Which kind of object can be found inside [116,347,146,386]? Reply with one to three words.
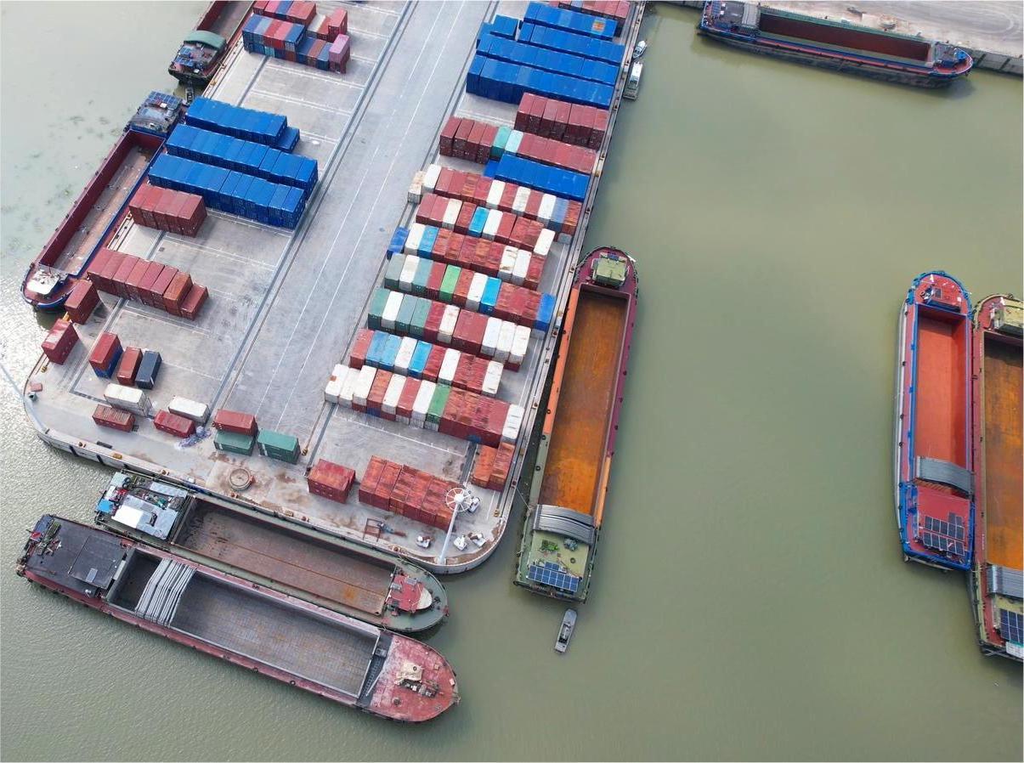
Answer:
shipping container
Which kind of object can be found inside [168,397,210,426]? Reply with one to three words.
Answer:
shipping container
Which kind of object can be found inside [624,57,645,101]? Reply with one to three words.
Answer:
boat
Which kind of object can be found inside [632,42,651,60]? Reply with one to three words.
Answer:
boat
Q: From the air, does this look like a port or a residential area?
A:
port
